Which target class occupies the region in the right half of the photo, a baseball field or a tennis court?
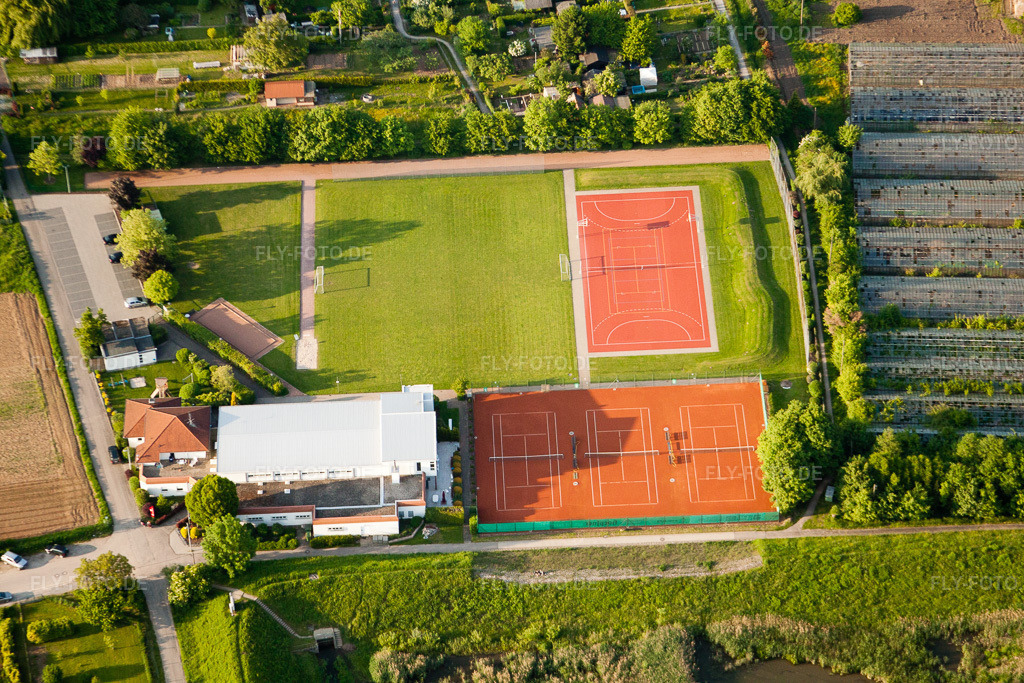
tennis court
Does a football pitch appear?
Yes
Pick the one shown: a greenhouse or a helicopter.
greenhouse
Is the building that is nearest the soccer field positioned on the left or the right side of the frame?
left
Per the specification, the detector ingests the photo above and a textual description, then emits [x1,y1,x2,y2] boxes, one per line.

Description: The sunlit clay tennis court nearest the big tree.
[675,399,760,507]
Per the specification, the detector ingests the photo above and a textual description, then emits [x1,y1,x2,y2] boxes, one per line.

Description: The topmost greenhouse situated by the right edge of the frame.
[849,42,1024,87]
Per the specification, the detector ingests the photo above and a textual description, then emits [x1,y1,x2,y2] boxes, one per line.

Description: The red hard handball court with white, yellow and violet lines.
[576,190,711,353]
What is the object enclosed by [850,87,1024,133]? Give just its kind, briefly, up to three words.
greenhouse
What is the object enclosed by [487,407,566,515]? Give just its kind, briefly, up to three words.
tennis court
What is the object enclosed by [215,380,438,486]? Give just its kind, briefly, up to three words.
building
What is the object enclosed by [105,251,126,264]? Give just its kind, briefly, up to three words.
vehicle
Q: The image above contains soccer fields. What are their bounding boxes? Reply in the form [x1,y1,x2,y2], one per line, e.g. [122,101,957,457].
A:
[316,170,580,396]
